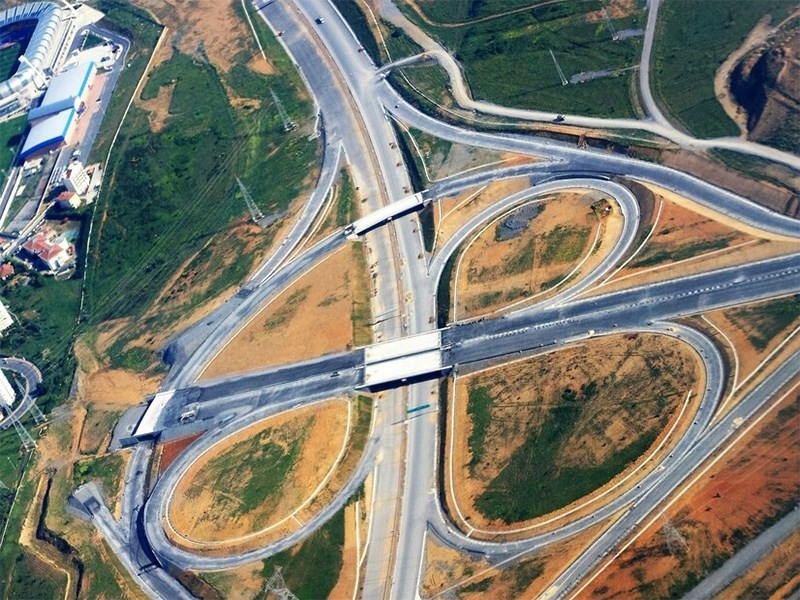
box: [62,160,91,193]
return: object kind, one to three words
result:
building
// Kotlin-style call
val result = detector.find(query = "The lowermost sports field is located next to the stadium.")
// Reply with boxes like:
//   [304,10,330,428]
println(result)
[0,119,31,193]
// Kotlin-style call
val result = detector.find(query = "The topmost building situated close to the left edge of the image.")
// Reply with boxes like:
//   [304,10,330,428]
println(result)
[21,62,98,159]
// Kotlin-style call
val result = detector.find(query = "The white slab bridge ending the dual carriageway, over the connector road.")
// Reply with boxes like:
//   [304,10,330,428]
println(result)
[118,389,176,446]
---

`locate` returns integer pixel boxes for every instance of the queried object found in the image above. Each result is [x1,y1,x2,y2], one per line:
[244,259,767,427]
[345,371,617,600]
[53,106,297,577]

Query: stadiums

[0,0,78,127]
